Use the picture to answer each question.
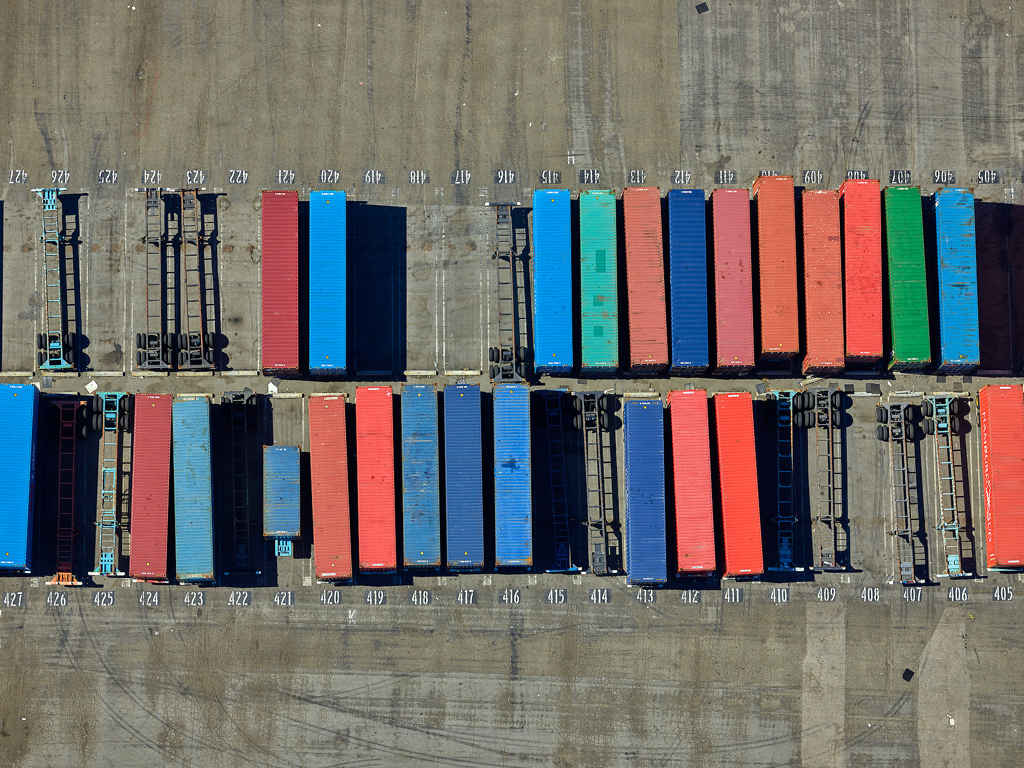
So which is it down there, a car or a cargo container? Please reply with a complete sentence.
Visible in the photo is a cargo container.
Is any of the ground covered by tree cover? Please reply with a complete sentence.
No, no tree cover is visible.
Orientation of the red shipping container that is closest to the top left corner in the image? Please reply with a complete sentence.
What the image shows is the red shipping container that is closest to the top left corner lying up and down.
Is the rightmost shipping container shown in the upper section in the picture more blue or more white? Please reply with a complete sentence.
The rightmost shipping container shown in the upper section looks blue in the image.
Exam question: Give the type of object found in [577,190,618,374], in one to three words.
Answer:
shipping container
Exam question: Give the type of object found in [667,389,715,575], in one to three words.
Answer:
shipping container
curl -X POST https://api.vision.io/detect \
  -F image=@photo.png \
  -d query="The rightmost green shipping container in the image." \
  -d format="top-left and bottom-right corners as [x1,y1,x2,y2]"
[881,186,931,370]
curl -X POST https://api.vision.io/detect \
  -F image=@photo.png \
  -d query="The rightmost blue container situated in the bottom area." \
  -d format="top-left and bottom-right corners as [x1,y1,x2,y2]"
[622,400,667,586]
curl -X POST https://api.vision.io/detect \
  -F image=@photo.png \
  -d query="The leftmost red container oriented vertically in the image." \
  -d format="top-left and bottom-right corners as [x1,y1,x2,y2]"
[129,393,173,580]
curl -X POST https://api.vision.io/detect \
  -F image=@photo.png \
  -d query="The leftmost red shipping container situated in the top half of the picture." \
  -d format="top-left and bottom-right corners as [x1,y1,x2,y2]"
[262,190,300,375]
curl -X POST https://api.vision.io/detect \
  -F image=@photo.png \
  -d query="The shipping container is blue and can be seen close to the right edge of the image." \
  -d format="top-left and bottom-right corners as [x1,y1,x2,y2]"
[930,188,980,371]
